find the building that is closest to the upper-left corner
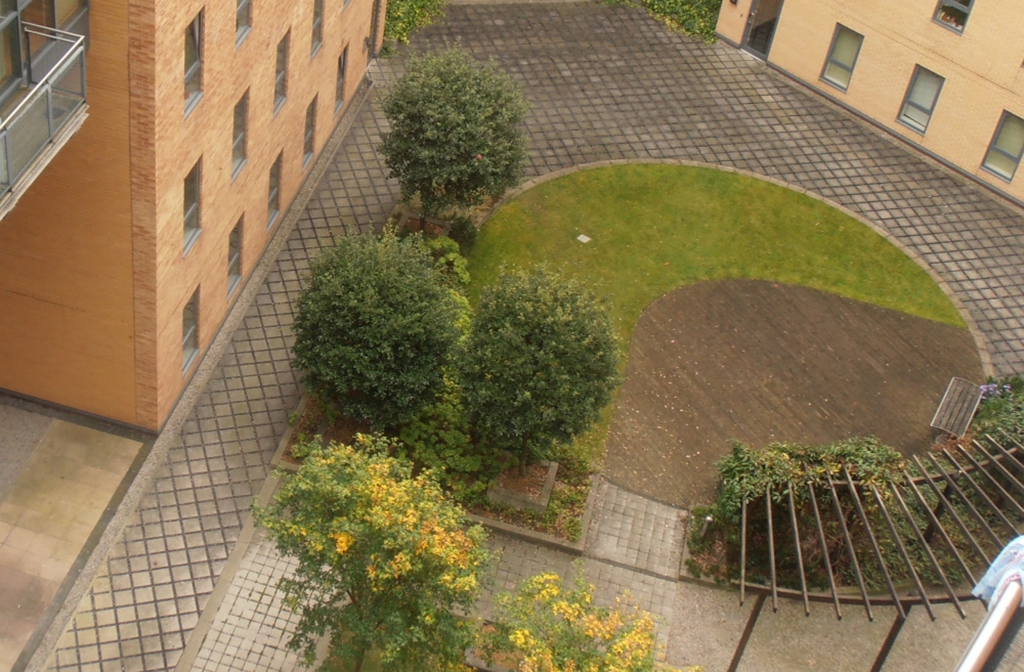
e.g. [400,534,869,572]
[0,0,386,437]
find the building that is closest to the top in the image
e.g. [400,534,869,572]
[716,0,1024,210]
